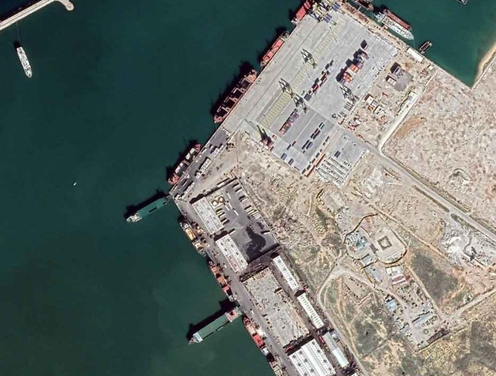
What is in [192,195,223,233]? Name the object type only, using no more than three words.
building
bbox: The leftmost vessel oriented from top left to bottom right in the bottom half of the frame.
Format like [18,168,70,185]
[179,219,204,254]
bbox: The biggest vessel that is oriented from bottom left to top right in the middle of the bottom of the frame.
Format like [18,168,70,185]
[189,308,244,344]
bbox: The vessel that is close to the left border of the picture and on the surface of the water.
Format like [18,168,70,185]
[18,45,32,77]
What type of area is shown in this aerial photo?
port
